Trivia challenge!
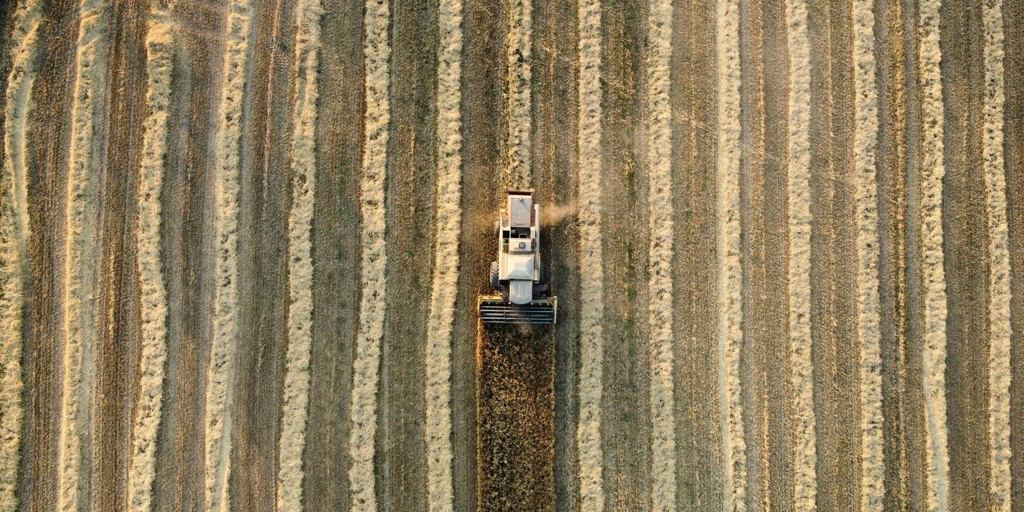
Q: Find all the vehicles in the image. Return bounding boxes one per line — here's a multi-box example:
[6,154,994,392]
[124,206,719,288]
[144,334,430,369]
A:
[478,189,557,328]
